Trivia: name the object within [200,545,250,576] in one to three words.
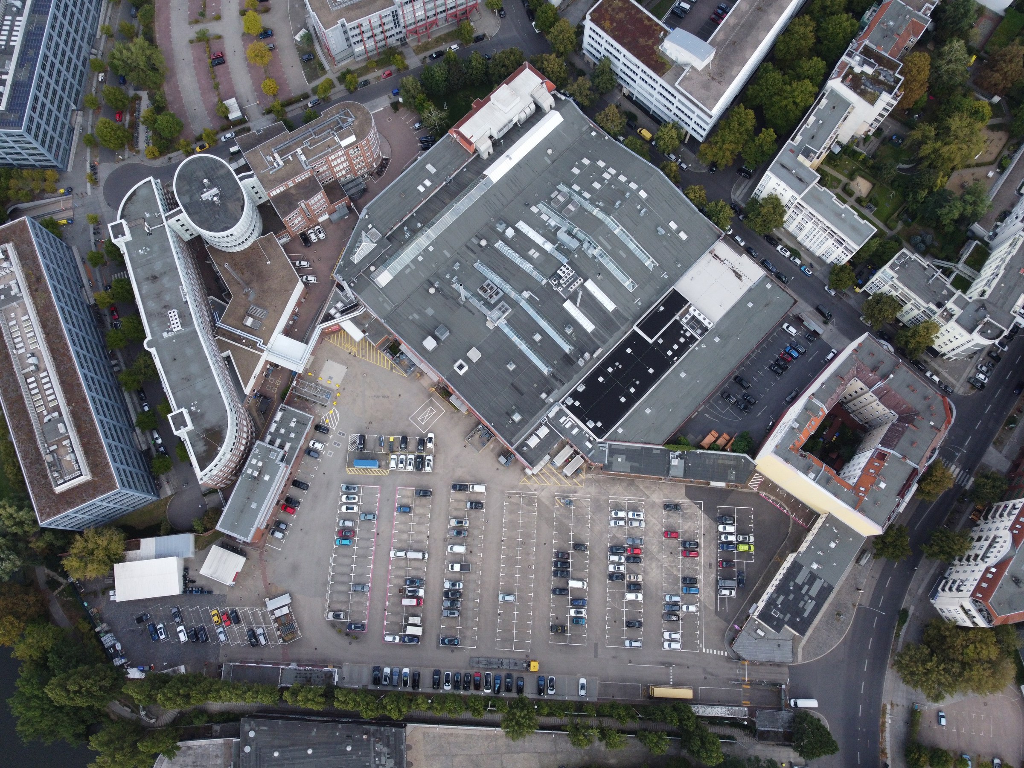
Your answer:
tent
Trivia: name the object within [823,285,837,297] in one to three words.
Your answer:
vehicle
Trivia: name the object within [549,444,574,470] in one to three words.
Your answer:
truck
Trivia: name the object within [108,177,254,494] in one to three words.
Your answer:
building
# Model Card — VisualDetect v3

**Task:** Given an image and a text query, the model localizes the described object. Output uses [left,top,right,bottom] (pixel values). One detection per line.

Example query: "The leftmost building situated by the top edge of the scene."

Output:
[0,0,100,172]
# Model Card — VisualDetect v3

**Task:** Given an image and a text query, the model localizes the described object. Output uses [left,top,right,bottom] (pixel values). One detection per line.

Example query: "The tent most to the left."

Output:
[114,561,185,601]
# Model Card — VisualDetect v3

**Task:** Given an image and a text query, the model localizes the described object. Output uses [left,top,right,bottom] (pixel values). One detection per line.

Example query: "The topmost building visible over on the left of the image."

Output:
[307,0,481,72]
